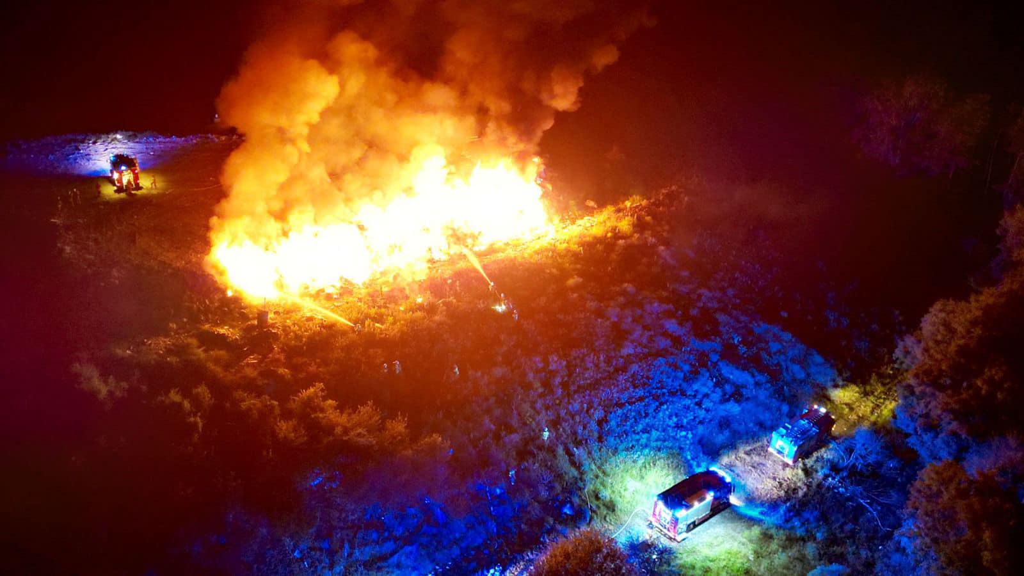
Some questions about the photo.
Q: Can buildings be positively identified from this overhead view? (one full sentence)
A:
No, this view has no building in it.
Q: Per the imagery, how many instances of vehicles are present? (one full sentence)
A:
In total, 3 vehicles can be seen.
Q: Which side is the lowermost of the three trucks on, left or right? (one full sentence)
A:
The lowermost of the three trucks appears in the right half of the scene.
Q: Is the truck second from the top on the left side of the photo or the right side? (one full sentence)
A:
The truck second from the top sits on the right side.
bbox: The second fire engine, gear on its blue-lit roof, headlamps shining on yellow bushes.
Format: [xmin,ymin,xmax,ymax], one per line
[767,397,841,463]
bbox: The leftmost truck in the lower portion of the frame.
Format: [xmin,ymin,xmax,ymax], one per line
[647,462,740,543]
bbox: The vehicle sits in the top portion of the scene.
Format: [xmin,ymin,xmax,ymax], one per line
[104,152,139,190]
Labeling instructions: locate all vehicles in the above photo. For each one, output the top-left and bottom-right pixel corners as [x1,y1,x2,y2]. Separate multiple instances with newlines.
[647,462,740,543]
[767,397,841,463]
[104,152,139,190]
